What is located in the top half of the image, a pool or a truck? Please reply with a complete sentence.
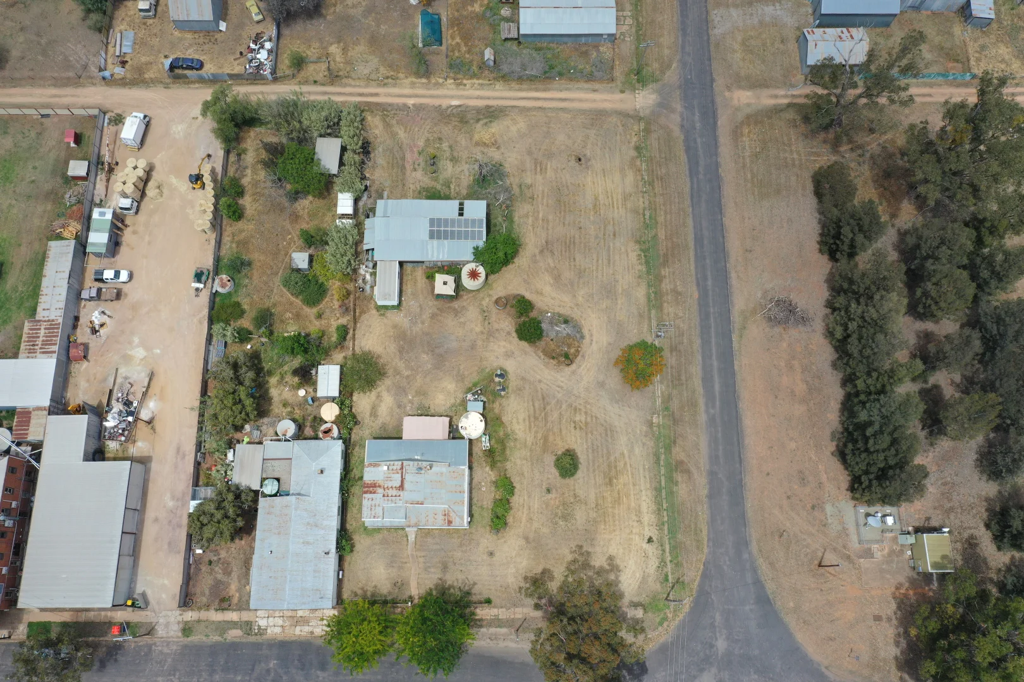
You can see a truck in the top half of the image.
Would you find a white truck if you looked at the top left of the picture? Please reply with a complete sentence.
Yes, a white truck is visible at the top left of the picture.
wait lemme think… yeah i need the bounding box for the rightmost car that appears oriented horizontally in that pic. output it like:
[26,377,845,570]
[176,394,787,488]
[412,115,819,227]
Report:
[171,55,205,72]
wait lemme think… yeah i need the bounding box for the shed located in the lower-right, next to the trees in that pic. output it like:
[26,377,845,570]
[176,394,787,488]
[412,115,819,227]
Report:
[913,534,955,573]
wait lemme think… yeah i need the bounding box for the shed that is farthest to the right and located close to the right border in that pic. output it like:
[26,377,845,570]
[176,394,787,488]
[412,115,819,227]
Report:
[958,0,995,31]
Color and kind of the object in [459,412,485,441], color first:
white water tank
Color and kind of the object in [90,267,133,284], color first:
white vehicle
